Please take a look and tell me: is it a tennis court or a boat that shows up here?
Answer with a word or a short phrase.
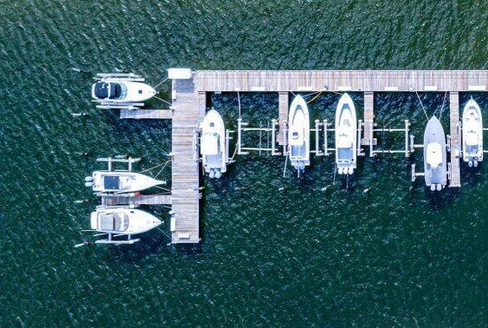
boat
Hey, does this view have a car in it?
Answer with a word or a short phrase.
No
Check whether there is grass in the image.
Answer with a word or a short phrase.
No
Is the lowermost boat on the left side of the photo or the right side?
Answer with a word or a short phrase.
left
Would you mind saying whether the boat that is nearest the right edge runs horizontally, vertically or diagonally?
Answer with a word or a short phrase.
vertically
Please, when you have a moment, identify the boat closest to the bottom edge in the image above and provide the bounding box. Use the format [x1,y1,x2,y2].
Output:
[90,208,170,234]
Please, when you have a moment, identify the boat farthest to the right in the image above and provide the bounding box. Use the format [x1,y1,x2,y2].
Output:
[462,95,483,169]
